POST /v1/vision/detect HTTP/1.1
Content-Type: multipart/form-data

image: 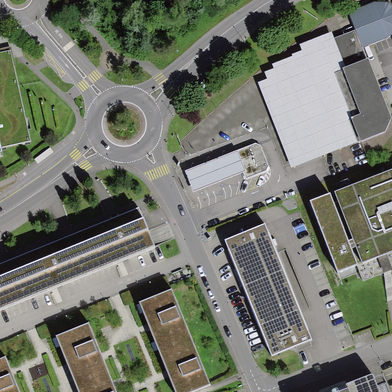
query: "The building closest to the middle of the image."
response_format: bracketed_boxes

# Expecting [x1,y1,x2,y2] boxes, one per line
[186,142,270,192]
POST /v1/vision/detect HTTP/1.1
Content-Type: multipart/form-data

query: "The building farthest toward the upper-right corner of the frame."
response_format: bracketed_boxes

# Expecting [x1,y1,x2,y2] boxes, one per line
[350,0,392,46]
